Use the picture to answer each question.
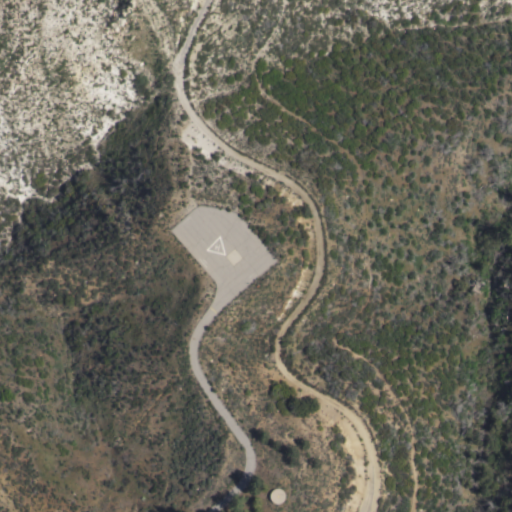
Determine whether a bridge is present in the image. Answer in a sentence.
No, no bridge can be seen from above.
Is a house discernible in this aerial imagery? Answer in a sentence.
No, the scene contains no house.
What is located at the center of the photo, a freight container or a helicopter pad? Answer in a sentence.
There is a helicopter pad at the center of the photo.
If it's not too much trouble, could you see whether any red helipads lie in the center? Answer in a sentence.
No, the scene shows no red helipad in the center.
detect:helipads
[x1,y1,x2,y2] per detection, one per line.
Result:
[172,206,276,313]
